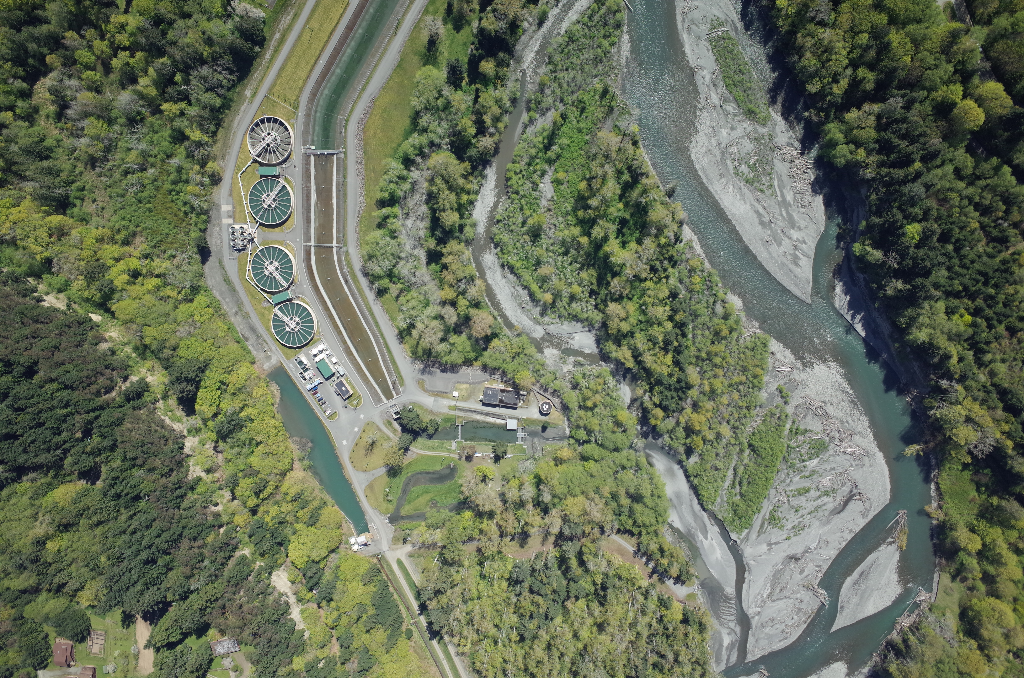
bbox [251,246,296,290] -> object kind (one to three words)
storage tank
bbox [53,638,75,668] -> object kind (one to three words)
house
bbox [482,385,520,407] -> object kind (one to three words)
building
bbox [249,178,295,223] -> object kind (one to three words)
storage tank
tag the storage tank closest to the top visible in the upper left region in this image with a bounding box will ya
[248,117,295,163]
